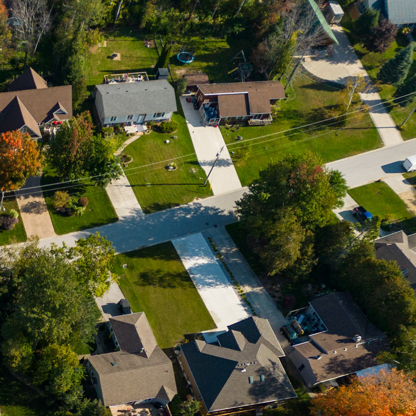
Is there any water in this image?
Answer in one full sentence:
No, no water is visible.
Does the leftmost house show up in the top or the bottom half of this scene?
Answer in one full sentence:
You can find the leftmost house in the top half.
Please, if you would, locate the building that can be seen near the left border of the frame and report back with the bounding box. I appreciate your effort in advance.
[0,56,73,148]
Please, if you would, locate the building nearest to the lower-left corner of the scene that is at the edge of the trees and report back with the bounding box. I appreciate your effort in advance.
[85,312,178,415]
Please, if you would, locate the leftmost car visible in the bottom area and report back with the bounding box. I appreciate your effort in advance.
[117,292,133,314]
